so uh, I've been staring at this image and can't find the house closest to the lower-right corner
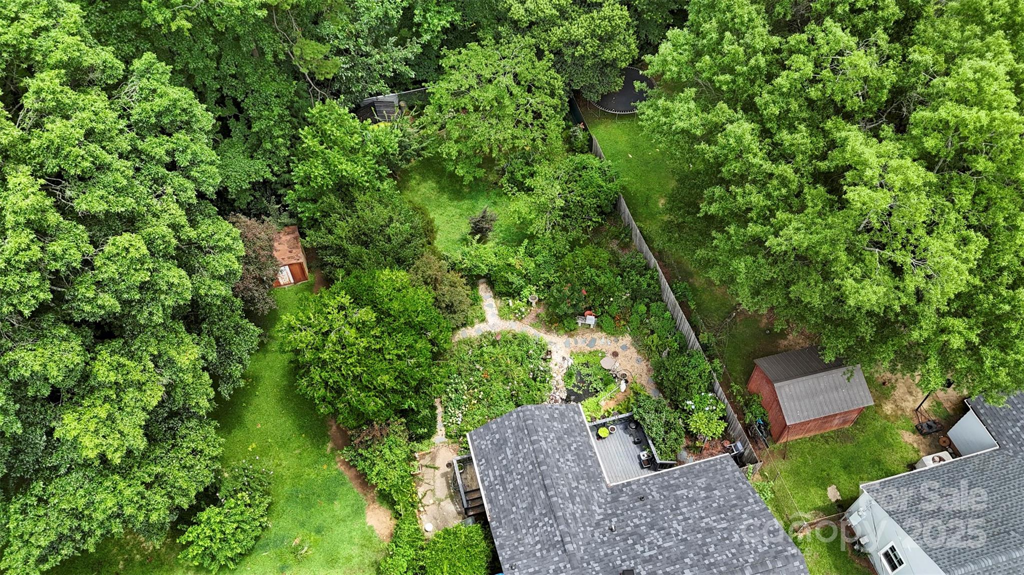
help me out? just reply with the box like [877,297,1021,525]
[849,376,1024,575]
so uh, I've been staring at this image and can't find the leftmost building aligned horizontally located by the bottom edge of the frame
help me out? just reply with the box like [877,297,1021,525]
[464,406,808,575]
